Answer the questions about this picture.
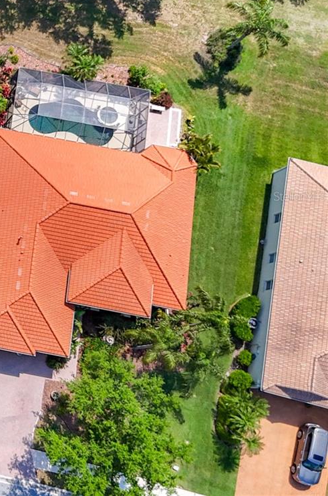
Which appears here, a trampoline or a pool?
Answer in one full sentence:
There is a pool in the scene.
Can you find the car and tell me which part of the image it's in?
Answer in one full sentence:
The car sits in the bottom right section of the image.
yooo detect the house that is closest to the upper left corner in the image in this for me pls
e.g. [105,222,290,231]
[0,128,200,358]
